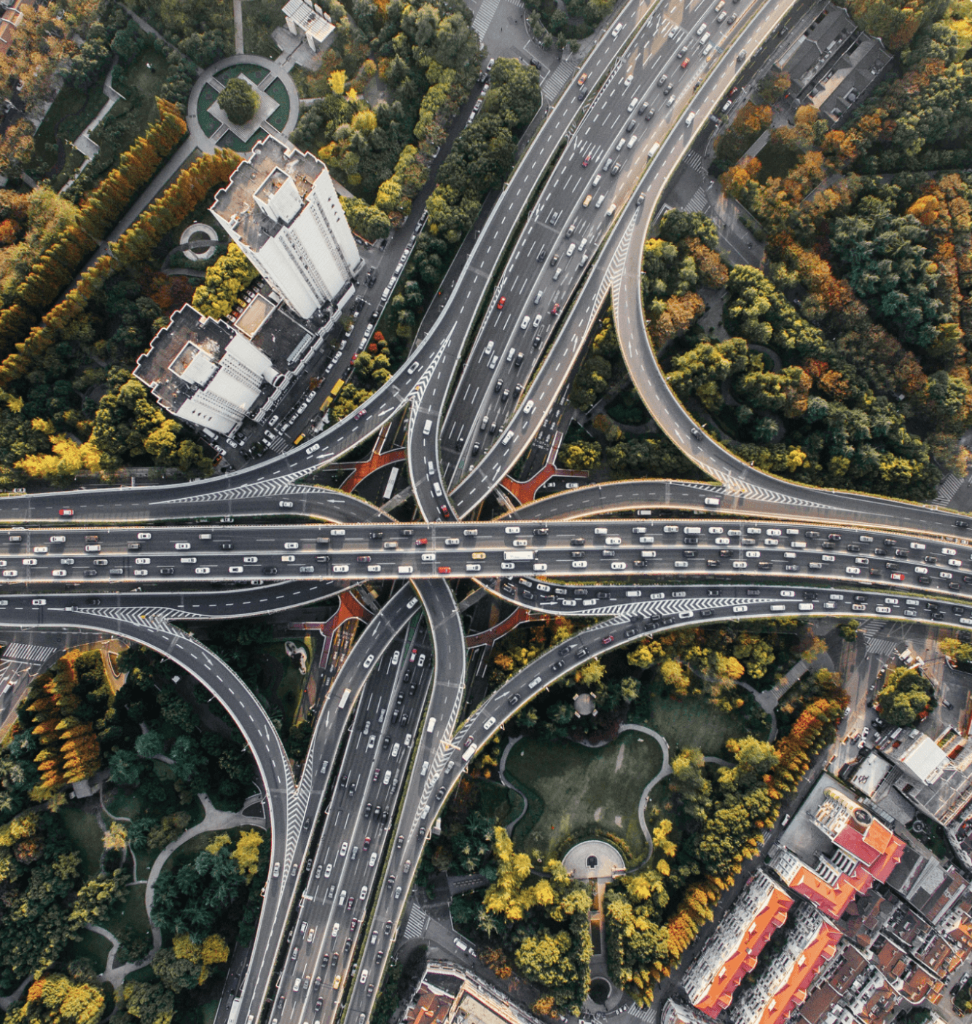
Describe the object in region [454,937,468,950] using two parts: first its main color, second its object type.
white vehicle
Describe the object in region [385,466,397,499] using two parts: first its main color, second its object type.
white vehicle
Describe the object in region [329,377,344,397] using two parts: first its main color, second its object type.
yellow vehicle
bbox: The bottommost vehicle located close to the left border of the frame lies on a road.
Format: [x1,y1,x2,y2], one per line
[3,679,17,693]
